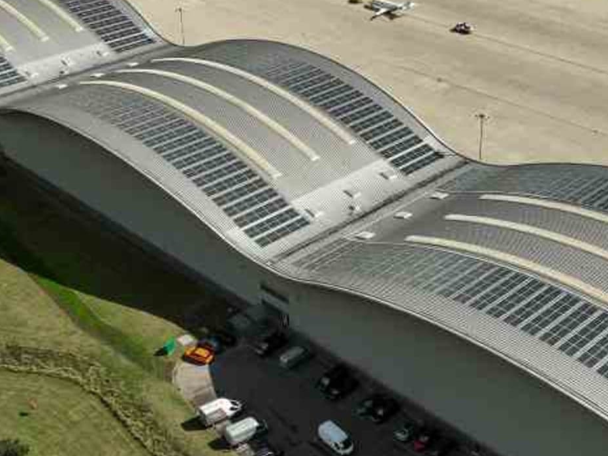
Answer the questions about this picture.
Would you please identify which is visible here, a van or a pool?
van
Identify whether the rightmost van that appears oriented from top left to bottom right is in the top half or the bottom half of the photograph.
bottom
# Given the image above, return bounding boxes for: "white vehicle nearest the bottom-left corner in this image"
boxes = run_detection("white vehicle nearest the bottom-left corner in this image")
[201,399,240,423]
